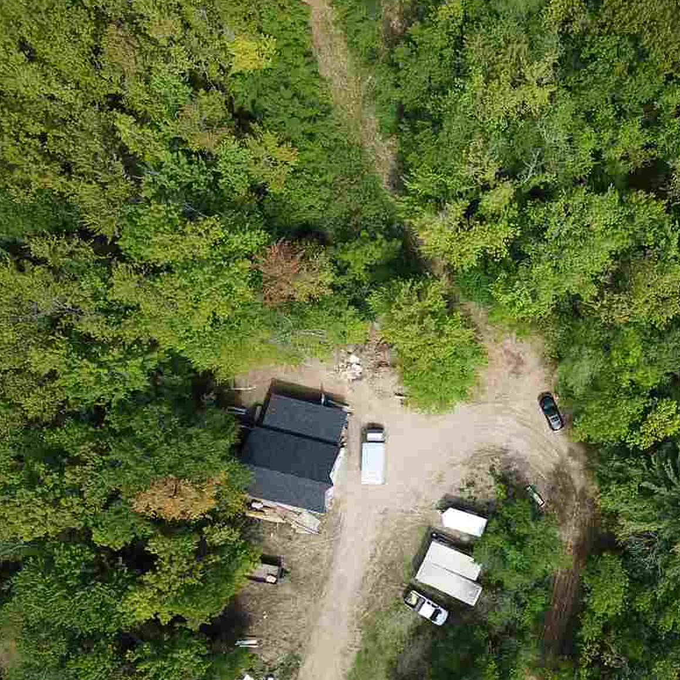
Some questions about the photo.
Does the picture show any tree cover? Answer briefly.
Yes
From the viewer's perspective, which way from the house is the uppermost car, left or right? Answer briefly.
on the right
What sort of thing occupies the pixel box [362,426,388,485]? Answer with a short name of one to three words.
truck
